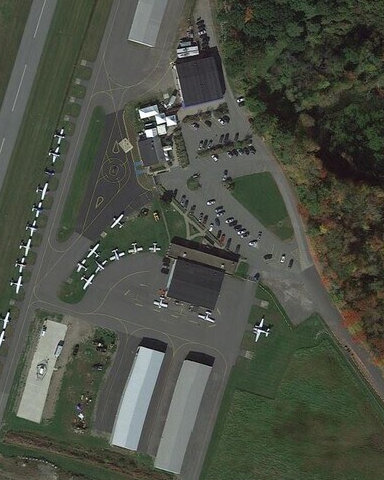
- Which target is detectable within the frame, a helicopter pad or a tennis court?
helicopter pad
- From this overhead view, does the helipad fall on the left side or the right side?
left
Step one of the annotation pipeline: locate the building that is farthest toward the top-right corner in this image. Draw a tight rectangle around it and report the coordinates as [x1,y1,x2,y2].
[174,57,222,106]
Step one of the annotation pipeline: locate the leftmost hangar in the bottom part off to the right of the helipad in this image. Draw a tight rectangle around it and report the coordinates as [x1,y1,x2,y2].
[111,346,165,451]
